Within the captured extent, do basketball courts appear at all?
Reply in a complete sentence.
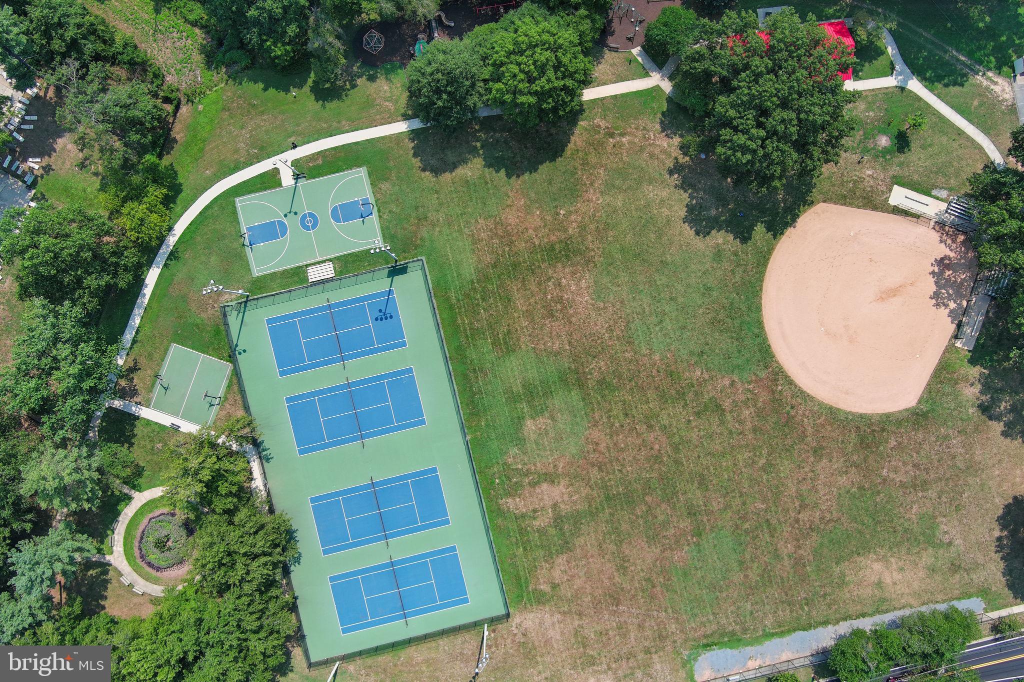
Yes, the image includes a basketball court.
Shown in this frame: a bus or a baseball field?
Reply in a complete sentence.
The image shows a baseball field.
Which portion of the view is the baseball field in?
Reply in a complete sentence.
Look in the right portion of the view to spot the baseball field.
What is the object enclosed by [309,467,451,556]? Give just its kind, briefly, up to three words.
tennis court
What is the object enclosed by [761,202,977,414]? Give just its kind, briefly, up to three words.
baseball field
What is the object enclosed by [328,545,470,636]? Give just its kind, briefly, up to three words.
tennis court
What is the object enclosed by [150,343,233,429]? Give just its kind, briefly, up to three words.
basketball court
